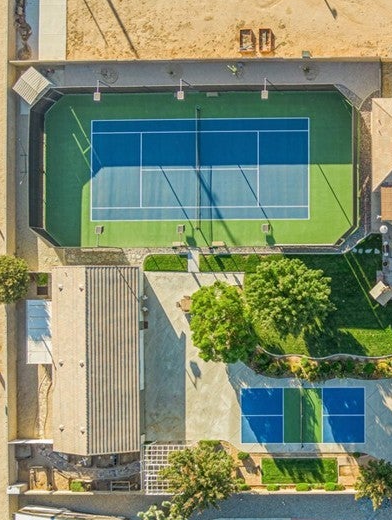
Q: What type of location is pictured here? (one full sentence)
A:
It's a sports ground.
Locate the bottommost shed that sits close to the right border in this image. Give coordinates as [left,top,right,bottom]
[367,279,392,307]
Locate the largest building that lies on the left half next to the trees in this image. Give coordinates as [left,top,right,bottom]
[52,265,149,456]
